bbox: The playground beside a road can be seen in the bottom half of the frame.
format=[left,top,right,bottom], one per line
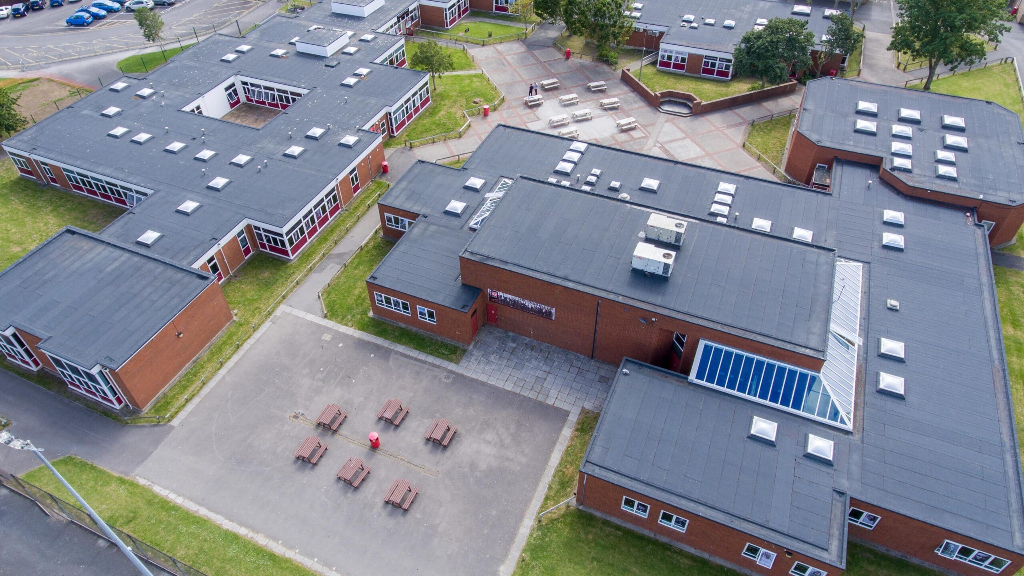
[132,312,570,576]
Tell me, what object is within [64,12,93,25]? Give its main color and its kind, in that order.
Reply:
blue vehicle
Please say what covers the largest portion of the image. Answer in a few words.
buildings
